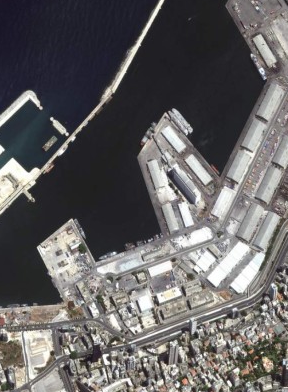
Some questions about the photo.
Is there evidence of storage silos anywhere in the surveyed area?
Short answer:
Yes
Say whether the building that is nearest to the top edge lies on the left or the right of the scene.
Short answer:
right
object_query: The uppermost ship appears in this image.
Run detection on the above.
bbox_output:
[251,53,266,80]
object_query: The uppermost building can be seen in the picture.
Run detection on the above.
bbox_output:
[252,33,277,68]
